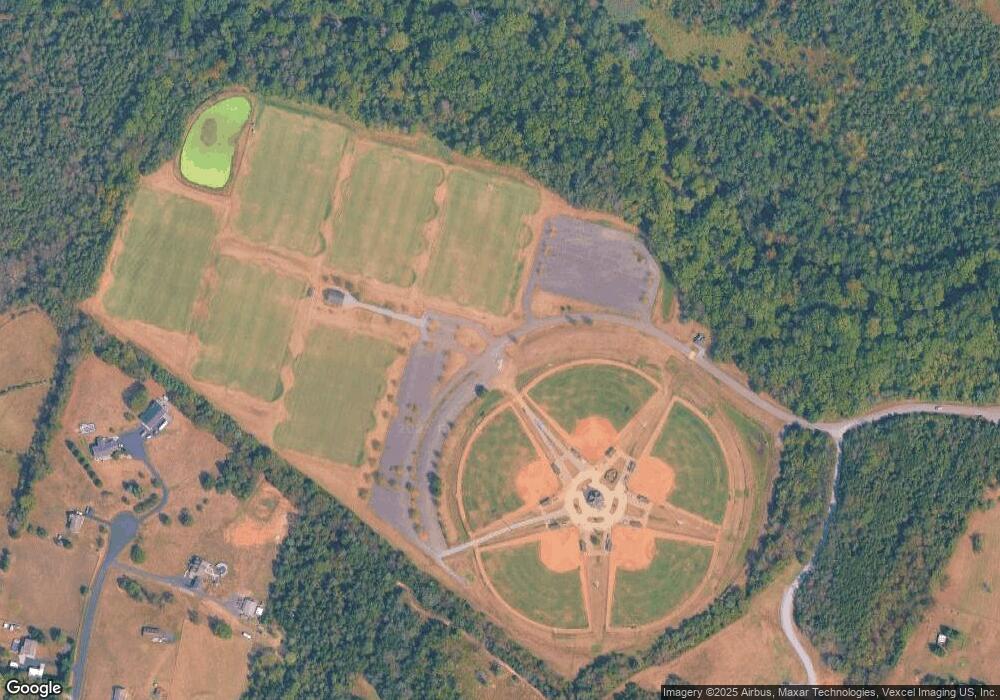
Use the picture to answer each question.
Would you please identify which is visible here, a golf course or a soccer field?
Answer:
soccer field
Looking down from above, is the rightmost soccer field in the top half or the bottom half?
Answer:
top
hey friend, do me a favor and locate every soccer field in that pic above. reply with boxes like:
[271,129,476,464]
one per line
[423,168,544,316]
[189,252,308,403]
[271,324,403,468]
[229,103,353,254]
[101,186,220,335]
[326,148,448,287]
